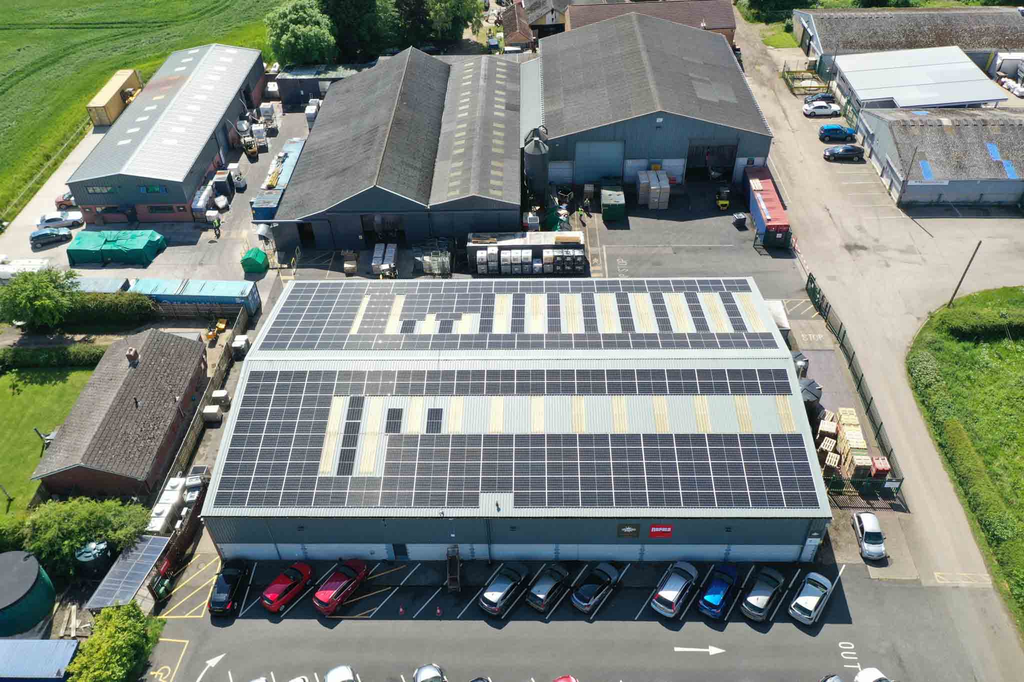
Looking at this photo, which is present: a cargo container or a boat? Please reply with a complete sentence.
It is a cargo container that can be seen here.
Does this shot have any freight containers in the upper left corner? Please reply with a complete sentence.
Yes, you'll find a freight container in the upper left corner.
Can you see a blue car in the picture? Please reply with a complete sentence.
Yes, a blue car is visible in the scene.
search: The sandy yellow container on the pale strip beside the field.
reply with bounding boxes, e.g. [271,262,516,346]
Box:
[88,69,146,123]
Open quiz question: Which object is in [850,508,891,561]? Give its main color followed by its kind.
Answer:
white car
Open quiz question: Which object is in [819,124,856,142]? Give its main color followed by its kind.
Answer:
blue car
